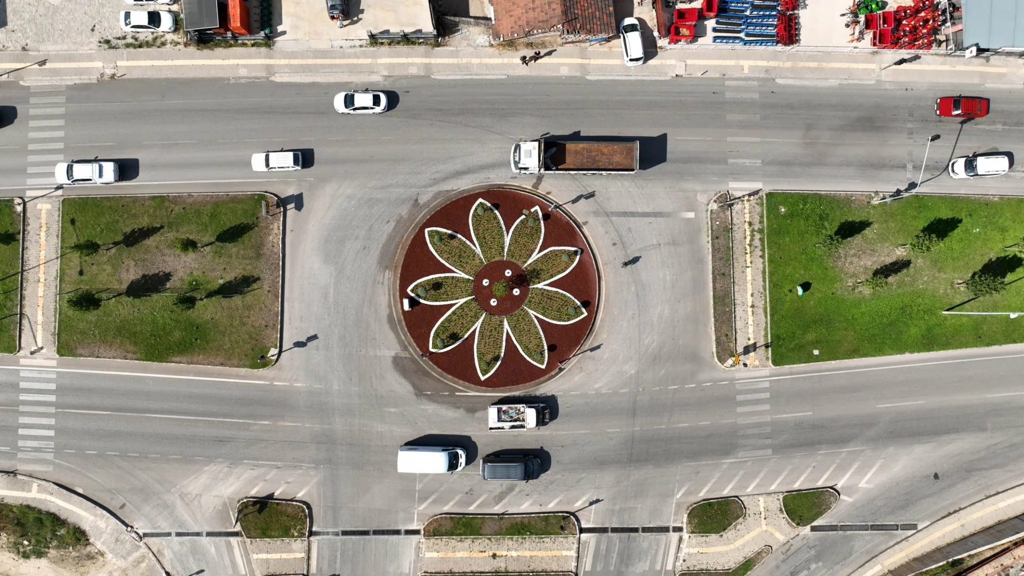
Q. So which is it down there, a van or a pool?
van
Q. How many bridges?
none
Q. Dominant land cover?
paved ground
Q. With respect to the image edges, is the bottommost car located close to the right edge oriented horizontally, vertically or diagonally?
horizontally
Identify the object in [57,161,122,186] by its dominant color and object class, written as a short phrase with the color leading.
white truck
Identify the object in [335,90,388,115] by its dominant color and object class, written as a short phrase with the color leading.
white car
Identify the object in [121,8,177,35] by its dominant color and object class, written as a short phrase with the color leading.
white car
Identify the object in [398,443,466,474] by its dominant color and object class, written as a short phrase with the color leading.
white van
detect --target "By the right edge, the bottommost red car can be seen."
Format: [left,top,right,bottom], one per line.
[934,95,989,119]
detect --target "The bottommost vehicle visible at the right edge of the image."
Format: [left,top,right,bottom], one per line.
[948,153,1011,180]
